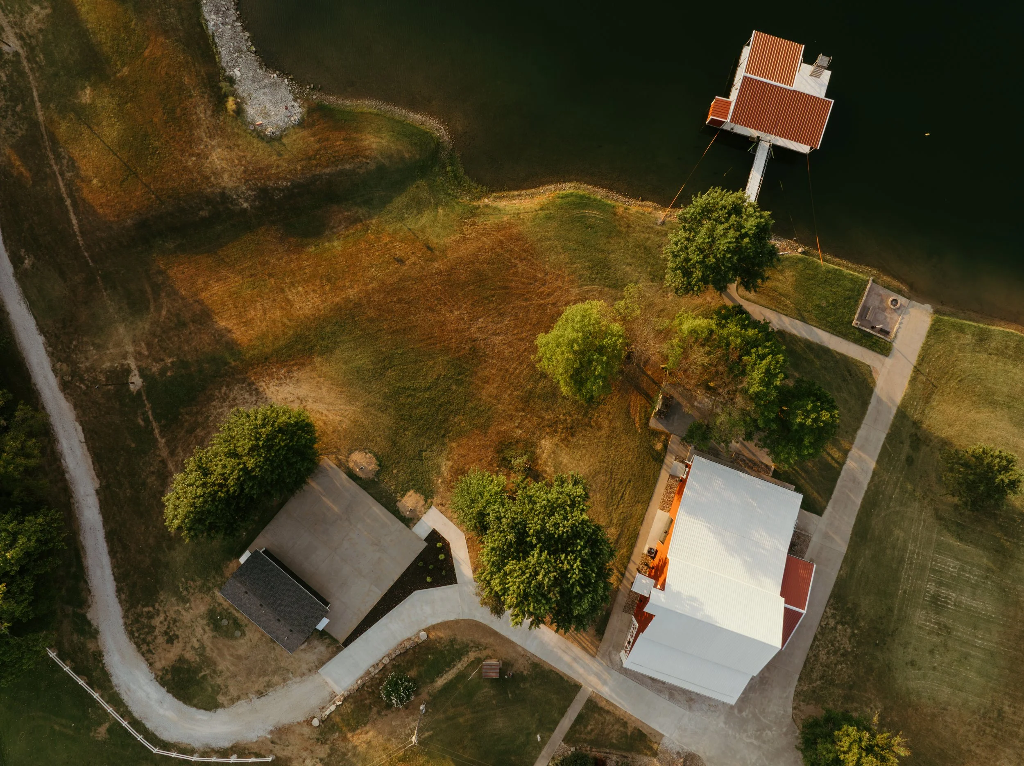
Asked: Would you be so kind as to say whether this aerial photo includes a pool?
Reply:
No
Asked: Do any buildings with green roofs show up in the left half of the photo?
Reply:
No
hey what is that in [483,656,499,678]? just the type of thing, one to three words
building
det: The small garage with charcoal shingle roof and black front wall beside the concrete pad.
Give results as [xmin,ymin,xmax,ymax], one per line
[219,544,335,655]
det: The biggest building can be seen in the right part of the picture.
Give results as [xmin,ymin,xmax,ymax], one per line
[618,455,817,706]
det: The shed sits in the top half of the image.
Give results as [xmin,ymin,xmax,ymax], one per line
[704,96,732,130]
